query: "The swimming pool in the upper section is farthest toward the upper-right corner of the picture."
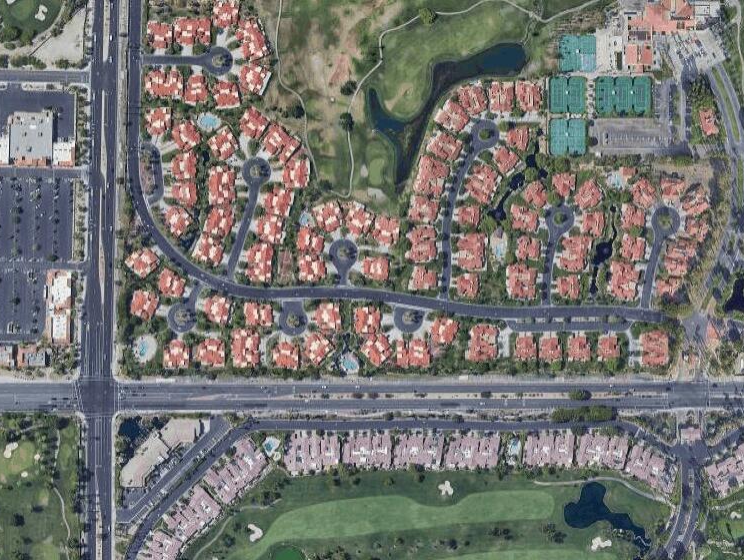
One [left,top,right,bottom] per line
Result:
[606,171,629,189]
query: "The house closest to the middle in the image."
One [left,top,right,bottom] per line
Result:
[361,255,390,281]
